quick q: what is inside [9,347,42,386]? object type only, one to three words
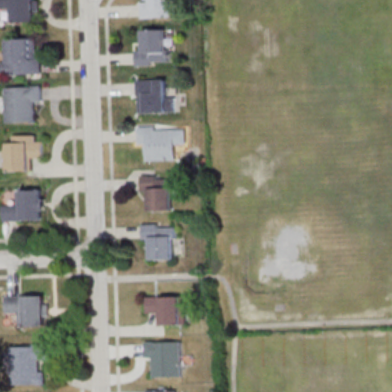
house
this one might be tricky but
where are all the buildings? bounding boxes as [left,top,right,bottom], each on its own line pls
[144,296,184,325]
[141,224,176,261]
[134,29,170,65]
[136,126,186,162]
[0,38,40,74]
[9,347,42,386]
[138,0,170,19]
[3,296,46,326]
[144,341,184,378]
[140,176,172,210]
[0,190,42,221]
[1,134,44,172]
[3,86,42,122]
[0,0,37,20]
[136,79,176,112]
